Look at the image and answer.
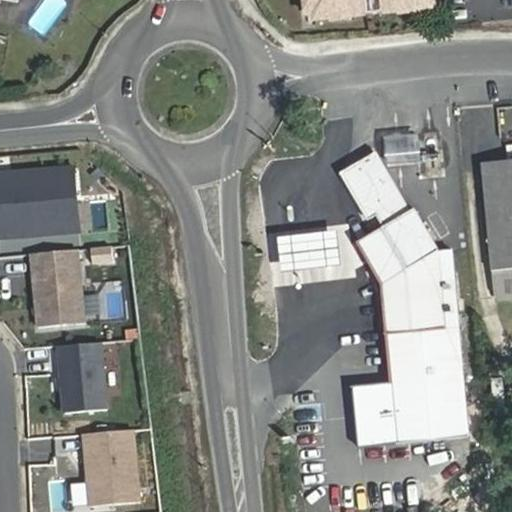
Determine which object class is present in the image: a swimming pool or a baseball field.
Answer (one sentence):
Visible in the photo is a swimming pool.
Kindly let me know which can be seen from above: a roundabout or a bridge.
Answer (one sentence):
It is a roundabout that can be seen here.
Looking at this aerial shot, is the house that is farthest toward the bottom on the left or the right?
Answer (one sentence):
It is on the left.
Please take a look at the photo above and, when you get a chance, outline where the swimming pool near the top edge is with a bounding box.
[28,0,67,36]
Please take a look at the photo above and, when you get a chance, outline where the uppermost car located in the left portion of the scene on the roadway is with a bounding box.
[152,2,165,26]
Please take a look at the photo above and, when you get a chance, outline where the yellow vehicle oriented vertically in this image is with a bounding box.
[356,484,368,510]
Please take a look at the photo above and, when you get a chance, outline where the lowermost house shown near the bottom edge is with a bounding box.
[70,430,142,508]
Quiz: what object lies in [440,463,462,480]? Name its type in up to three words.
car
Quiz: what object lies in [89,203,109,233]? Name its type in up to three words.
swimming pool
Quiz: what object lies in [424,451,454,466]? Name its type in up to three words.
vehicle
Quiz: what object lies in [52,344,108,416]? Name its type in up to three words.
house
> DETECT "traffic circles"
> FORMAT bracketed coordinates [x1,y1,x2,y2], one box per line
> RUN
[138,42,236,140]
